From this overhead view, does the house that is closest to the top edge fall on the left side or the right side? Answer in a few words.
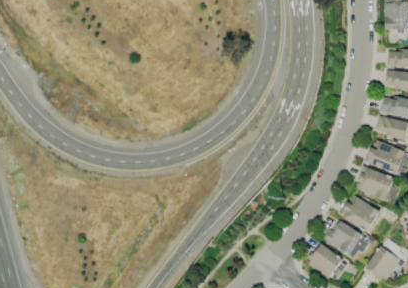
right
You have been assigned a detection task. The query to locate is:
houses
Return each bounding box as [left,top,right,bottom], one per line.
[342,196,380,234]
[388,50,408,70]
[309,245,343,278]
[326,221,364,258]
[366,142,406,175]
[376,116,408,142]
[382,97,408,118]
[356,167,396,202]
[386,71,408,92]
[386,0,408,31]
[368,248,401,282]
